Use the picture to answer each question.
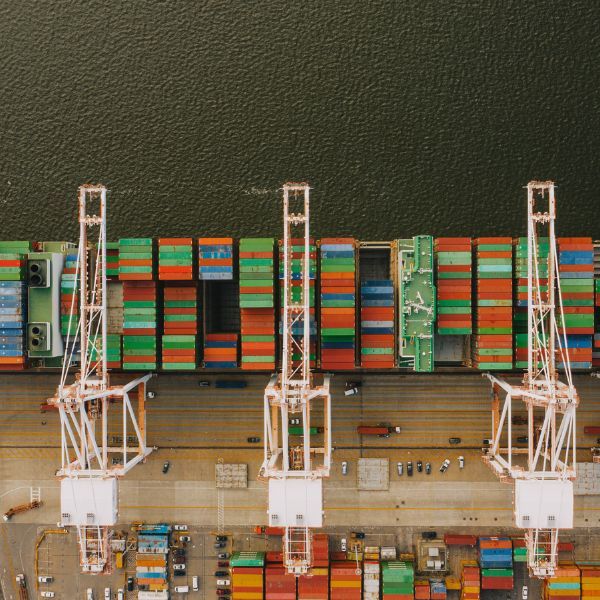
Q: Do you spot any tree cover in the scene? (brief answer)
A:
No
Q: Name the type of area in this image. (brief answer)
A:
port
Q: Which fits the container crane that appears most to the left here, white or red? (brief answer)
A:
white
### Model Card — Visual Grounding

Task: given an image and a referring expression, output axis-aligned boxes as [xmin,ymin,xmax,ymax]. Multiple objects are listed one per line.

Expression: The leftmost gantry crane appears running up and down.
[49,182,162,578]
